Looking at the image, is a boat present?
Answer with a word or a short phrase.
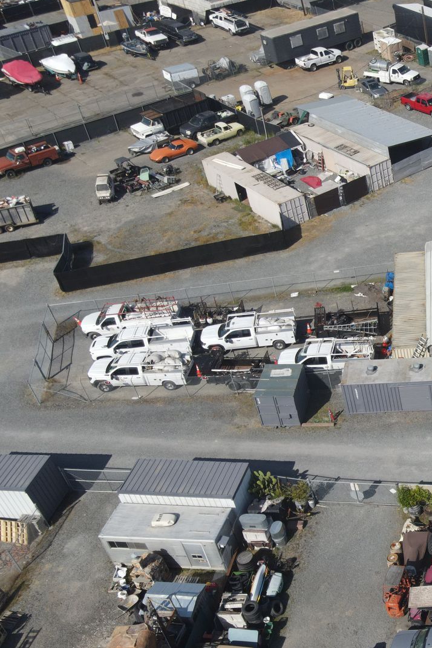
Yes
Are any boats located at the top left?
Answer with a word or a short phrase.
Yes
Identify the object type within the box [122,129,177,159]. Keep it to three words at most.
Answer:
boat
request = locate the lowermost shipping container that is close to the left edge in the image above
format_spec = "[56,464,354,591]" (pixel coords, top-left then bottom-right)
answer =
[0,20,58,59]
